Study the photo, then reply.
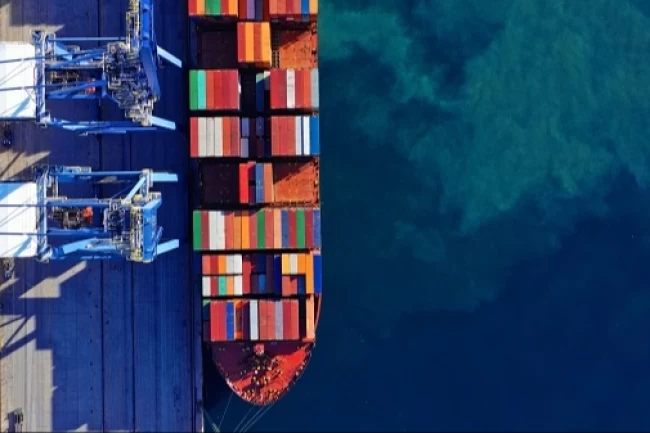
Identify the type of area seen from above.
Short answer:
port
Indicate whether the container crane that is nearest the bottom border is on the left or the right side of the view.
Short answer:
left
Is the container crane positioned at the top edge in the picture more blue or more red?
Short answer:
blue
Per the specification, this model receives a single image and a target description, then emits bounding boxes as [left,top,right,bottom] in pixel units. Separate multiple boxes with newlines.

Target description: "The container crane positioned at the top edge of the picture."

[0,0,190,143]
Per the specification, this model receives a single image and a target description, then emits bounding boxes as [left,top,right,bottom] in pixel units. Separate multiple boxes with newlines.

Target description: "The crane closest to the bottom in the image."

[0,164,192,264]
